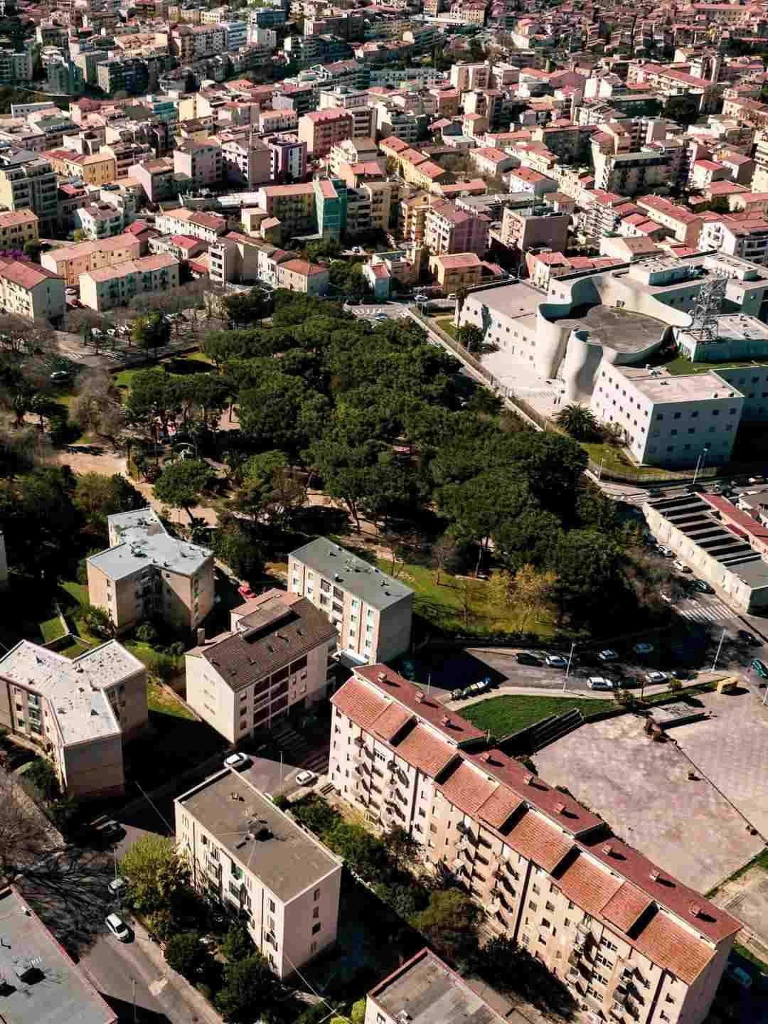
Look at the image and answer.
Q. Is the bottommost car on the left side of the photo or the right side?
right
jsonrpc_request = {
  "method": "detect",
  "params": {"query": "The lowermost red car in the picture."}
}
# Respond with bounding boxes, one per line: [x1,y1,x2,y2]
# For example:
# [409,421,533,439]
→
[231,582,250,596]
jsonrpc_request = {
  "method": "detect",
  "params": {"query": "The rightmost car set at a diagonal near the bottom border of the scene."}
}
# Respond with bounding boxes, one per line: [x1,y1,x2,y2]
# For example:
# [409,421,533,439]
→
[728,958,758,990]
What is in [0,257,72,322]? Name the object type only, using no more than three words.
house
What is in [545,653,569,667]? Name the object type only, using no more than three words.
car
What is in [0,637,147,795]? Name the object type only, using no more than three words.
building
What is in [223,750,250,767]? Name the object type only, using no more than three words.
car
